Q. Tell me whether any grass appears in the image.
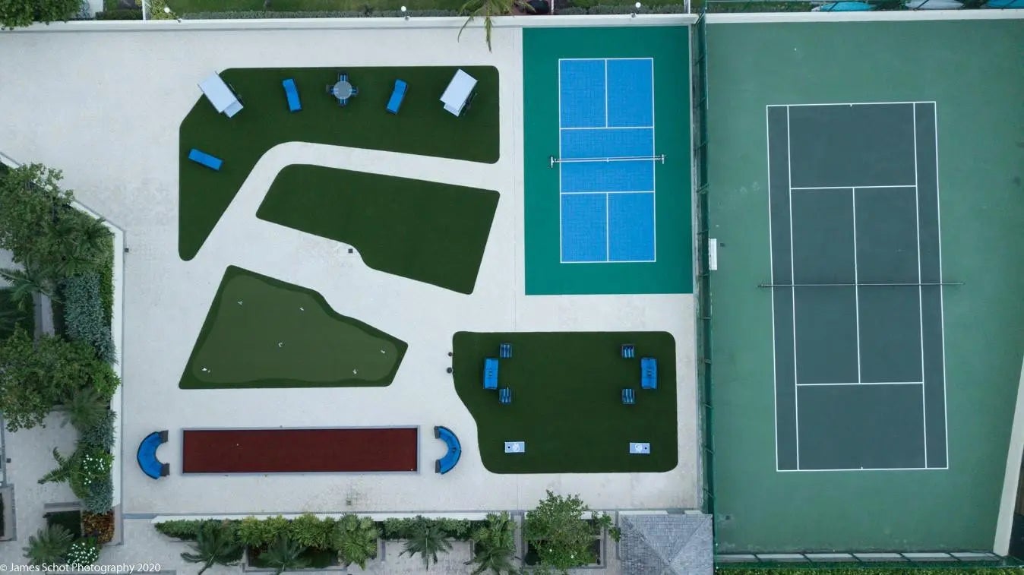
Yes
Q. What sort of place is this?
sports ground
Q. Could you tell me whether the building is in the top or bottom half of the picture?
bottom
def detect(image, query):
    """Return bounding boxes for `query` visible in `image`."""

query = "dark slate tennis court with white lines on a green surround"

[700,18,1024,555]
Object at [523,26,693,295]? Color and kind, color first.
blue sports court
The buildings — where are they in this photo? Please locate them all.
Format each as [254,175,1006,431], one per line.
[619,513,712,575]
